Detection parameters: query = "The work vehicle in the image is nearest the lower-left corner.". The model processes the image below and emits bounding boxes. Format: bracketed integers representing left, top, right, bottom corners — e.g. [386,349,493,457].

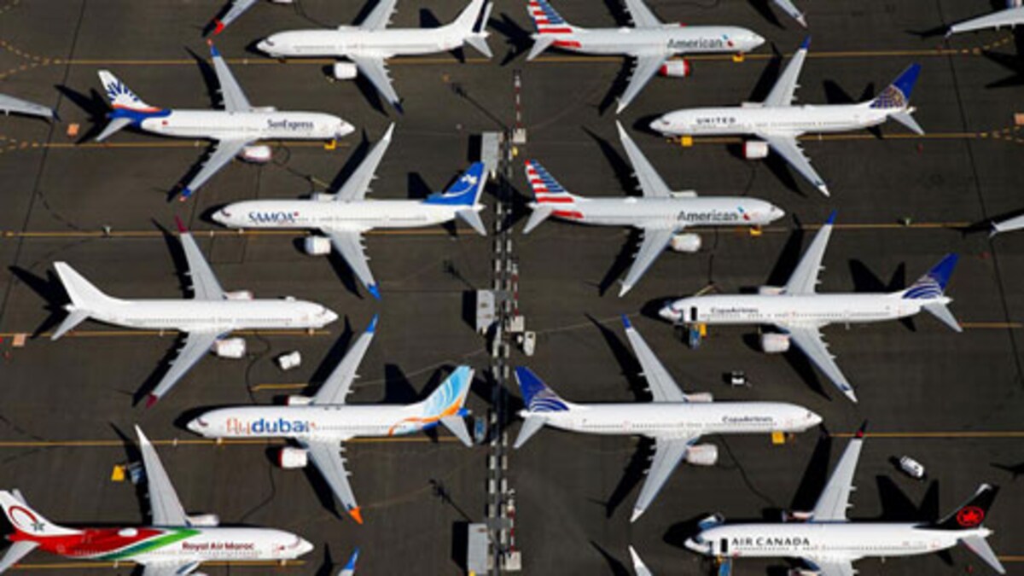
[278,351,300,368]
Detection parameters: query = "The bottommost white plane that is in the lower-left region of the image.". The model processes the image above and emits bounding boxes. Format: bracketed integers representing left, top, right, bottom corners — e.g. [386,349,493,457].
[0,427,314,576]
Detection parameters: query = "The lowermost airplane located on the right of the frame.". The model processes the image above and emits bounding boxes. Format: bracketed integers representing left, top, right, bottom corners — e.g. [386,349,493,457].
[631,546,654,576]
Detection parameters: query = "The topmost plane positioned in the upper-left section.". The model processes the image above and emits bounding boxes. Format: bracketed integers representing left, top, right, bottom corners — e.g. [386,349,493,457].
[207,0,251,34]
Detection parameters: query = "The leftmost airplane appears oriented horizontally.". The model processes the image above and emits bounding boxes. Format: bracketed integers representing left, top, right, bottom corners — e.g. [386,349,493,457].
[0,92,63,118]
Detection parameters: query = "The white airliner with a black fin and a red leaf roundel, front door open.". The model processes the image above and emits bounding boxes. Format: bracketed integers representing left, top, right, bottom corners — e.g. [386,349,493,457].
[683,422,1003,576]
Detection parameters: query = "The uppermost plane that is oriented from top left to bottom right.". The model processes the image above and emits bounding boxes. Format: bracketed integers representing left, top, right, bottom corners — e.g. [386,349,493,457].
[768,0,806,30]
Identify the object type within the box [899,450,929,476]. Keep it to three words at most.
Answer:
vehicle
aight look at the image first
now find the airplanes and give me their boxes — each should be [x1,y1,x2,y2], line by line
[0,427,314,576]
[515,312,821,525]
[631,546,654,576]
[659,210,961,404]
[98,40,356,202]
[683,422,1003,576]
[213,125,488,301]
[528,0,764,114]
[526,122,785,299]
[942,0,1024,33]
[257,0,494,115]
[187,314,473,526]
[54,217,339,410]
[207,0,251,34]
[0,92,63,118]
[989,213,1024,235]
[768,0,806,30]
[650,35,924,198]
